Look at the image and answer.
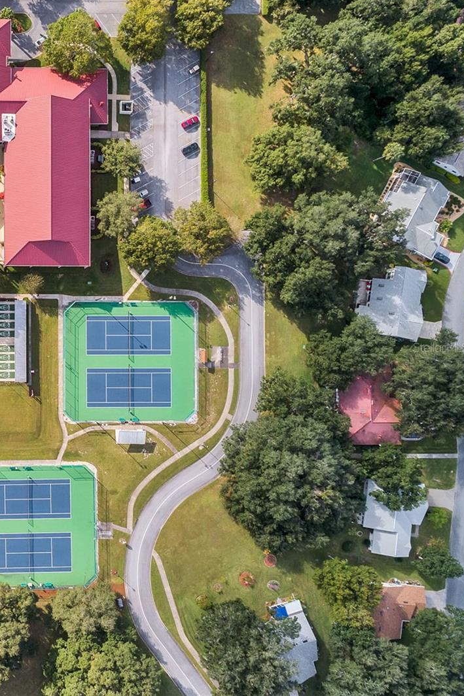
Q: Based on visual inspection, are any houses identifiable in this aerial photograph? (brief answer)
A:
Yes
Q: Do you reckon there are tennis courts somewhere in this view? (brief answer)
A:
Yes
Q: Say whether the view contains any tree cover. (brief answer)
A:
Yes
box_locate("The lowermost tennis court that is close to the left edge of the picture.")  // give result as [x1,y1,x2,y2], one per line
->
[0,465,98,588]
